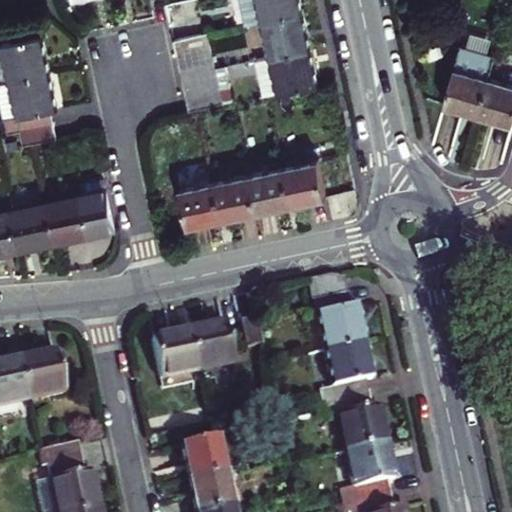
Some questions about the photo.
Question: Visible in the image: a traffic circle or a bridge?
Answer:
traffic circle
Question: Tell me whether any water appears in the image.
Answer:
No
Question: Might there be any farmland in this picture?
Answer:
No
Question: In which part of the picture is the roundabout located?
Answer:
right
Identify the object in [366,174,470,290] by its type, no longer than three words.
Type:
roundabout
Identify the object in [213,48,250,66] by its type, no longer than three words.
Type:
shed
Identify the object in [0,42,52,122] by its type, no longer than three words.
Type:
house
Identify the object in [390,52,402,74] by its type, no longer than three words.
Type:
vehicle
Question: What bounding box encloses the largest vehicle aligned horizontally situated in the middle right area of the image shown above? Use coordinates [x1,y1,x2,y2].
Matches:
[414,238,448,257]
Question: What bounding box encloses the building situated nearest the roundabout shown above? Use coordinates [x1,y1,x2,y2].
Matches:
[326,190,358,221]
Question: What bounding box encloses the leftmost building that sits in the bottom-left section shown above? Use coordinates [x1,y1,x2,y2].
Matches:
[0,352,36,406]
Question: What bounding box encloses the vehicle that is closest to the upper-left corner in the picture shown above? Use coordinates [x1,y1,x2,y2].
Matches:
[88,40,100,60]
